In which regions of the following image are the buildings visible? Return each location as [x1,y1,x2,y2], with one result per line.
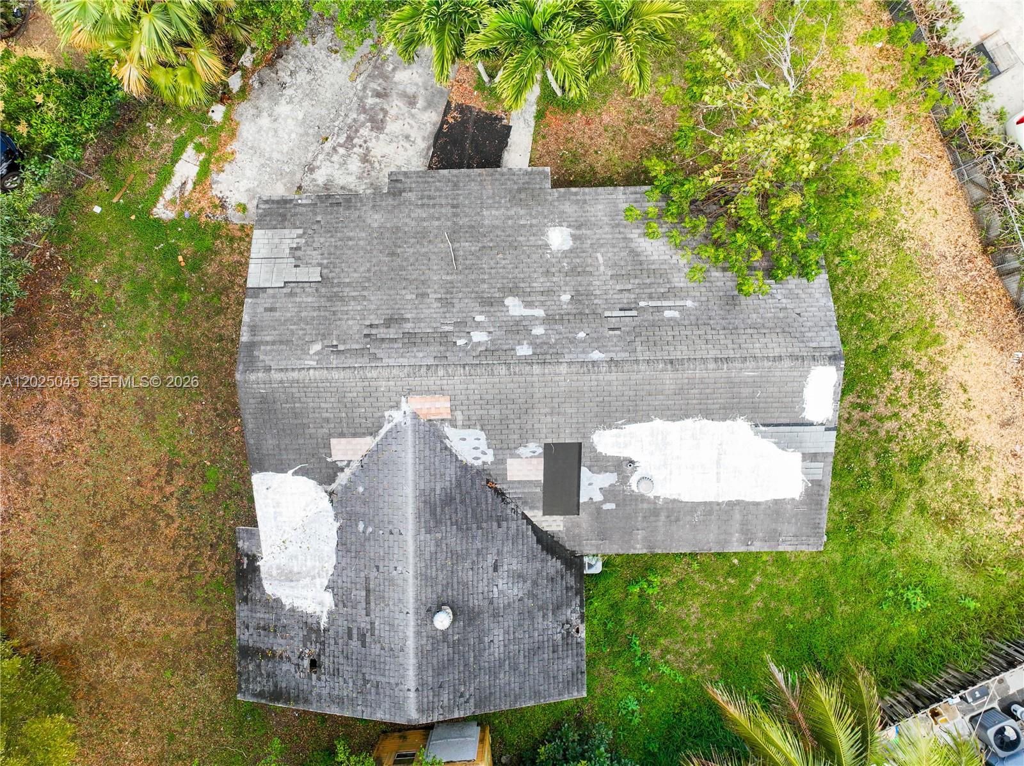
[361,724,491,766]
[235,166,846,724]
